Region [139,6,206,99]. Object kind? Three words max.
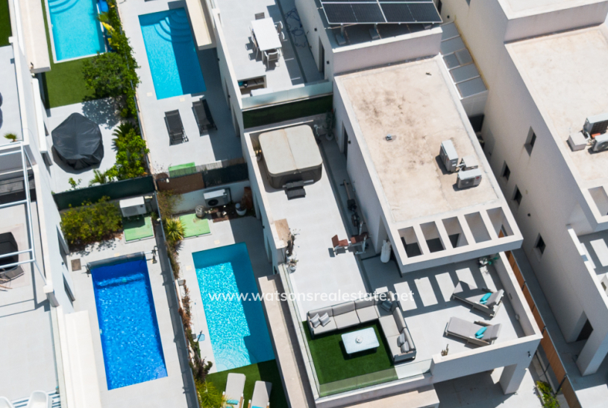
swimming pool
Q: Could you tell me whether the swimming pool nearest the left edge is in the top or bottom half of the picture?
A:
top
